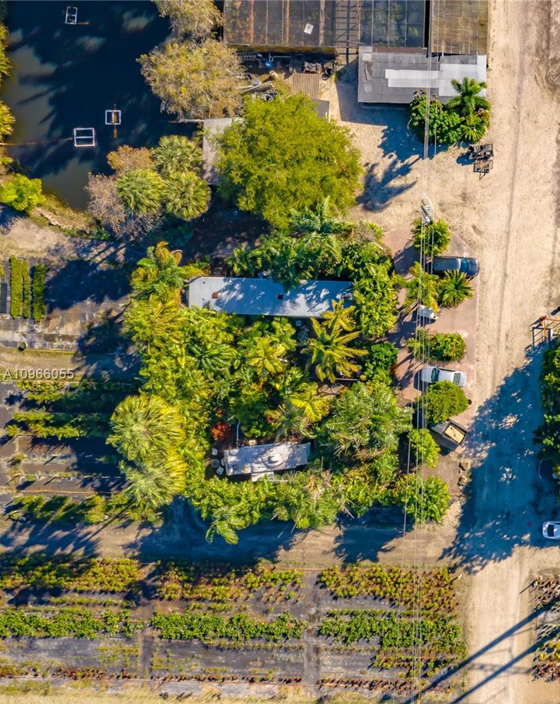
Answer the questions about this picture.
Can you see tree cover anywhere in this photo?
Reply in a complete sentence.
Yes, some tree cover is visible.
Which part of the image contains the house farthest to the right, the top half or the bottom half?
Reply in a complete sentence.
Seen from above, the house farthest to the right lies in the top half of the view.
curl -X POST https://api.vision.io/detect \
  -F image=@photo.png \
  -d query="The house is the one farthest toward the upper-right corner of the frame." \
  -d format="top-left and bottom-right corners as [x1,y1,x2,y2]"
[429,0,488,65]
